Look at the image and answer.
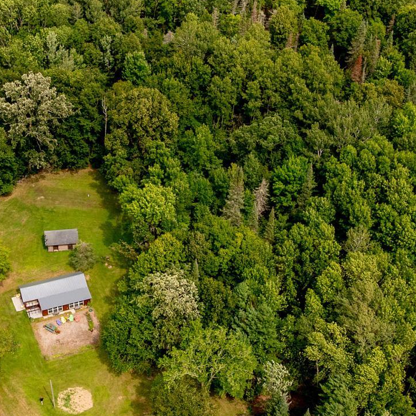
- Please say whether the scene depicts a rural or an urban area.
rural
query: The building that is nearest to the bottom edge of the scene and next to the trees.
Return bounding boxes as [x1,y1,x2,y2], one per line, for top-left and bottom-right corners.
[15,270,93,320]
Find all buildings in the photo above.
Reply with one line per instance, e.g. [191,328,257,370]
[15,270,93,320]
[43,227,76,253]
